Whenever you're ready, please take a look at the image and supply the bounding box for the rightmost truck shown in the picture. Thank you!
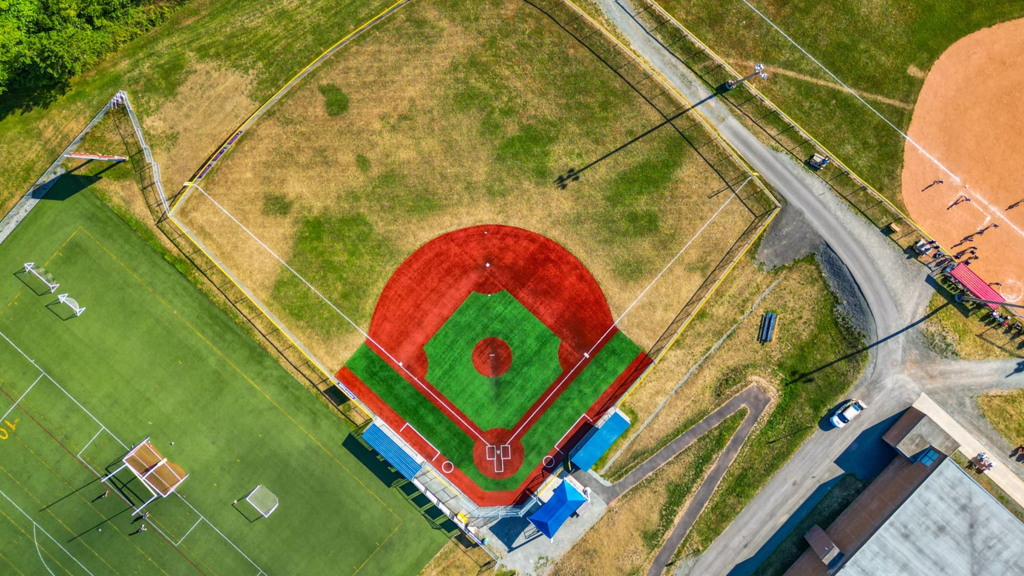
[827,395,869,427]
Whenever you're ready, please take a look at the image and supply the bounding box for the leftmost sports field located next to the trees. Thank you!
[0,172,457,576]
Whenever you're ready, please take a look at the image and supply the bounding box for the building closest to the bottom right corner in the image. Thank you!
[782,403,1024,576]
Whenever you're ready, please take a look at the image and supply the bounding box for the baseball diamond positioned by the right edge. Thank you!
[649,0,1024,326]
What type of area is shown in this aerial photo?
sports ground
